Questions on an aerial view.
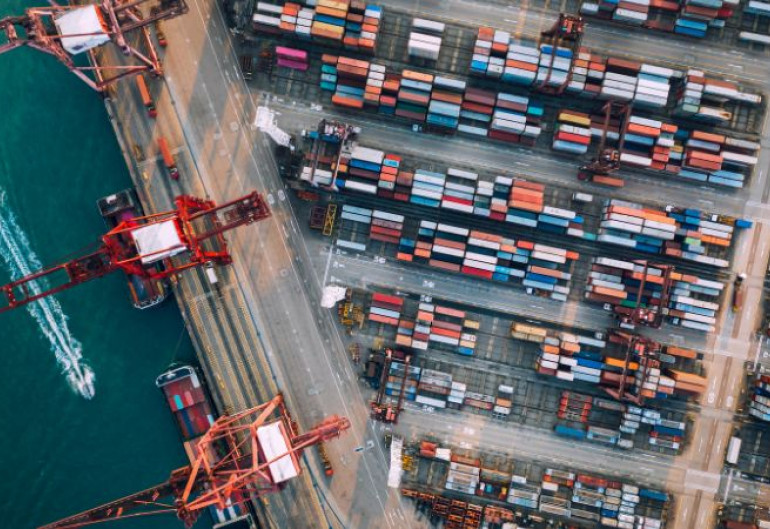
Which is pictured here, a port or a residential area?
port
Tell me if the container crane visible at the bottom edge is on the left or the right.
left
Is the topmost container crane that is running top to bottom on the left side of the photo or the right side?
right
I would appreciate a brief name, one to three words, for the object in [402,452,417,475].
work vehicle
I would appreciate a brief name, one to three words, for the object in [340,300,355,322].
work vehicle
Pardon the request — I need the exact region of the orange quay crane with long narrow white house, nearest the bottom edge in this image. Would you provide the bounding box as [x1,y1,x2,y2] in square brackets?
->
[40,385,354,529]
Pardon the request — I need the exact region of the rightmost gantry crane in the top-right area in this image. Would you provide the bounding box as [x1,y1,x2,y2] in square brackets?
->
[570,100,637,185]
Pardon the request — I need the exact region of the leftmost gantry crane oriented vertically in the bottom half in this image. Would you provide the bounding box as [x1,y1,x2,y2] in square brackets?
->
[371,338,414,421]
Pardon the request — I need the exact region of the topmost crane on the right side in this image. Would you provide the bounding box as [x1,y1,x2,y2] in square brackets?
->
[527,18,584,110]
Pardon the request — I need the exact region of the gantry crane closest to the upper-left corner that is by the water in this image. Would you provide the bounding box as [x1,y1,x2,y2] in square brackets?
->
[0,0,193,103]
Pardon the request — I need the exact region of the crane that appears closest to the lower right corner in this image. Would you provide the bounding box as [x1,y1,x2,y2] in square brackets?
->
[587,324,656,406]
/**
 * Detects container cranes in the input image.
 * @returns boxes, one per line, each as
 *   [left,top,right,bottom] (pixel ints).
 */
[587,324,656,406]
[527,18,584,110]
[371,338,414,421]
[570,100,637,185]
[605,258,675,331]
[309,117,356,198]
[40,385,354,529]
[0,0,193,103]
[0,189,274,319]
